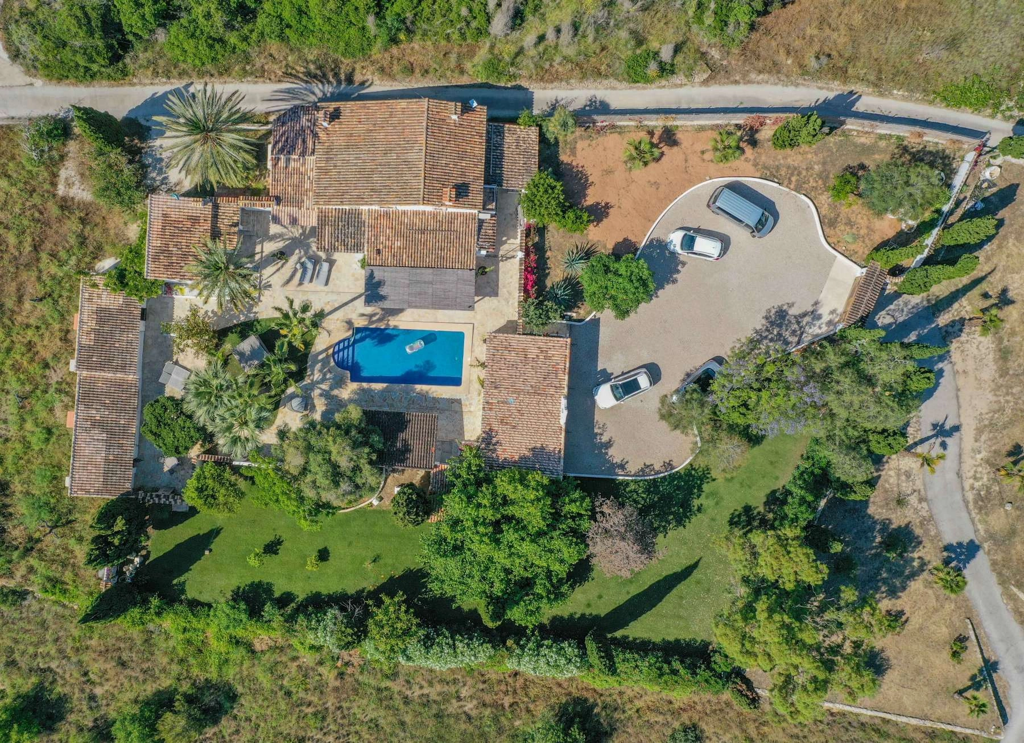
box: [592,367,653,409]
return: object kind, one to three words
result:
car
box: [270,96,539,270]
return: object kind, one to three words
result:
house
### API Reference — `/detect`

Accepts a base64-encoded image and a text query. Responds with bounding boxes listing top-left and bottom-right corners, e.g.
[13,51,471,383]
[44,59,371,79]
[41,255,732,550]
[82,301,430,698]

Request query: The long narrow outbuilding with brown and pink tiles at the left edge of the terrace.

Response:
[65,275,148,497]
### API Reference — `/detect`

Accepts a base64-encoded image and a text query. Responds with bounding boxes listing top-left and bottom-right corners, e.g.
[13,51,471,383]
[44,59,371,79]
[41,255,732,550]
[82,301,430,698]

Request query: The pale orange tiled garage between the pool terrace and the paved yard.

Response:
[476,334,571,478]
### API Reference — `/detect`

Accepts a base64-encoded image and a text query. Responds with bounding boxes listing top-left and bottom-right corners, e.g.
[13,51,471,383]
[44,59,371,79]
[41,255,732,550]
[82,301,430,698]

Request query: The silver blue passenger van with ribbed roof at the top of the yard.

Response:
[705,186,773,240]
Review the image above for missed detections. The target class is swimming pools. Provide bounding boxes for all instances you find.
[322,322,473,395]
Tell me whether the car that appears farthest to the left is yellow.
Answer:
No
